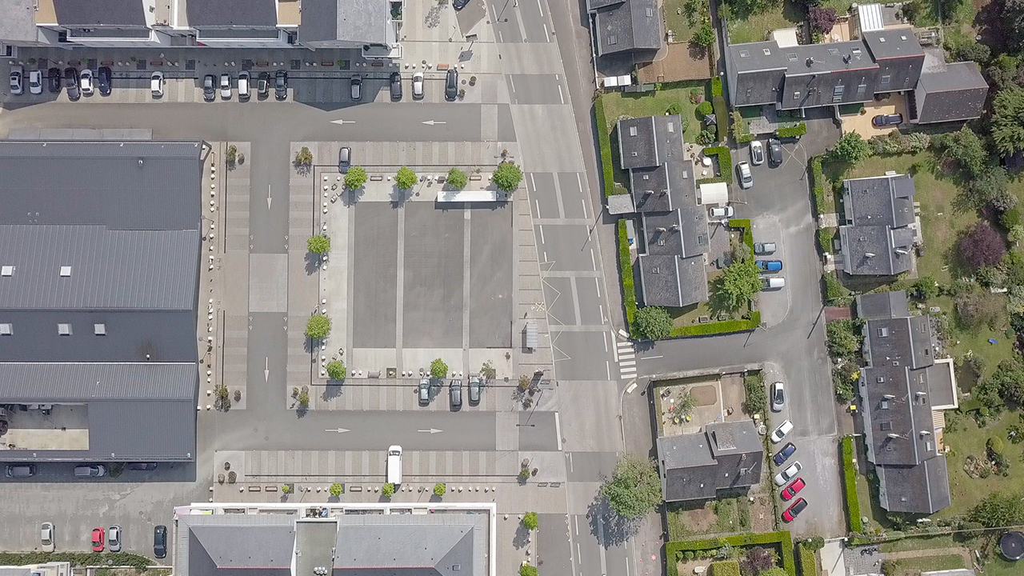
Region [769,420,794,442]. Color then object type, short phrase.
white car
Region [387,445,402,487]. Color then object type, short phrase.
white vehicle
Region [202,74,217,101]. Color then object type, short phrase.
gray car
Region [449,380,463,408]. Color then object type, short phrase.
gray car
